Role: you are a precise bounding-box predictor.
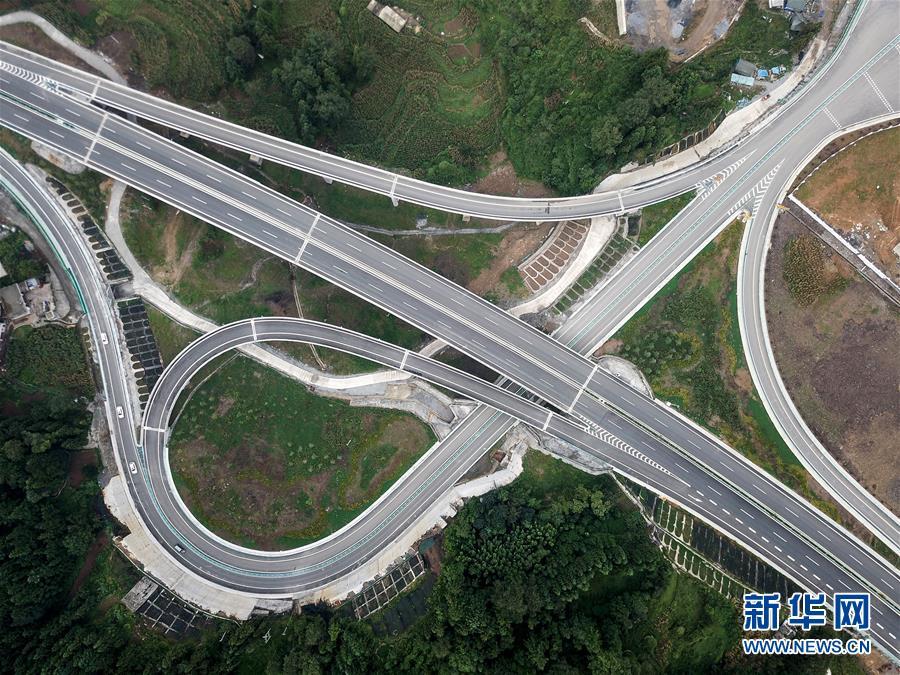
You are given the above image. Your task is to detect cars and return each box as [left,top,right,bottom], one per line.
[173,543,184,554]
[129,461,136,474]
[115,406,122,418]
[100,332,107,345]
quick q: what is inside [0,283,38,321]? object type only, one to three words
house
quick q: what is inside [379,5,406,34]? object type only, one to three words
shed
